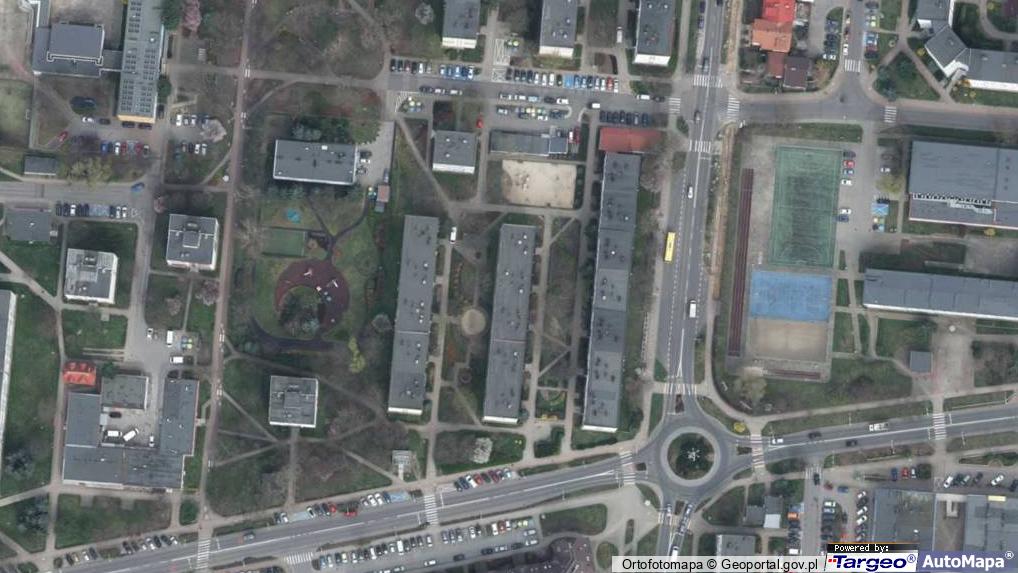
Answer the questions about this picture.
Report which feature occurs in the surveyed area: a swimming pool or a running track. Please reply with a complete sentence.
Visible in the photo is a running track.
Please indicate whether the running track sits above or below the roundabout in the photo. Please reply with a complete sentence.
Looking at the photo, you'll find the running track above the roundabout.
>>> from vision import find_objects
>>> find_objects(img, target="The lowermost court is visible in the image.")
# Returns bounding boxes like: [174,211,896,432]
[747,319,828,361]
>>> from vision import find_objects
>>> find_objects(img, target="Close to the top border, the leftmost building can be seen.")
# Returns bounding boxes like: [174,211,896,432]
[33,0,166,124]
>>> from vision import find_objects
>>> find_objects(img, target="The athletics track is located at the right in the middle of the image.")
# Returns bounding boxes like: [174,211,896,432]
[727,168,754,356]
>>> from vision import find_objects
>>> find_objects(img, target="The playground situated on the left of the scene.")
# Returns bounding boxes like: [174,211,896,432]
[262,247,352,340]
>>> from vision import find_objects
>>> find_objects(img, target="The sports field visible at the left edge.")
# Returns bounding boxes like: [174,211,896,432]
[0,82,29,138]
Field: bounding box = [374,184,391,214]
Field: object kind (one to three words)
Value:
shed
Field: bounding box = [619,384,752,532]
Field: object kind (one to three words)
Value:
roundabout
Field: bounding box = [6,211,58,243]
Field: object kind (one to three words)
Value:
building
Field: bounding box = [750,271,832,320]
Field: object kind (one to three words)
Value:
sports court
